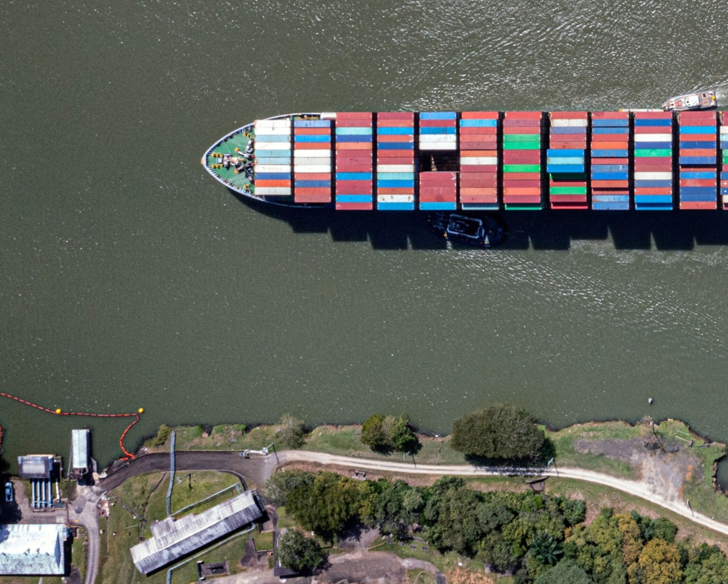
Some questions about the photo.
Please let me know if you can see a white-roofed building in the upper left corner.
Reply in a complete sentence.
No, the scene shows no white-roofed building in the upper left corner.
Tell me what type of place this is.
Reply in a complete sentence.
The area seen from above is a port.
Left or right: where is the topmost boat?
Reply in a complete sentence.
The topmost boat sits on the right side.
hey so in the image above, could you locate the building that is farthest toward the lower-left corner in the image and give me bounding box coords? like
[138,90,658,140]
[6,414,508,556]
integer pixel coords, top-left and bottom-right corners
[0,522,69,575]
